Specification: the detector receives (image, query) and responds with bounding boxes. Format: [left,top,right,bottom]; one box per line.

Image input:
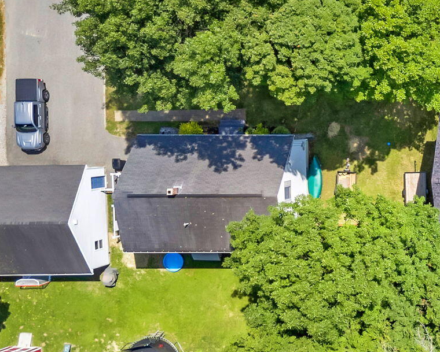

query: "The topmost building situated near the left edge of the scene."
[0,163,112,277]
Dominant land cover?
trees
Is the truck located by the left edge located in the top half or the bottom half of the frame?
top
